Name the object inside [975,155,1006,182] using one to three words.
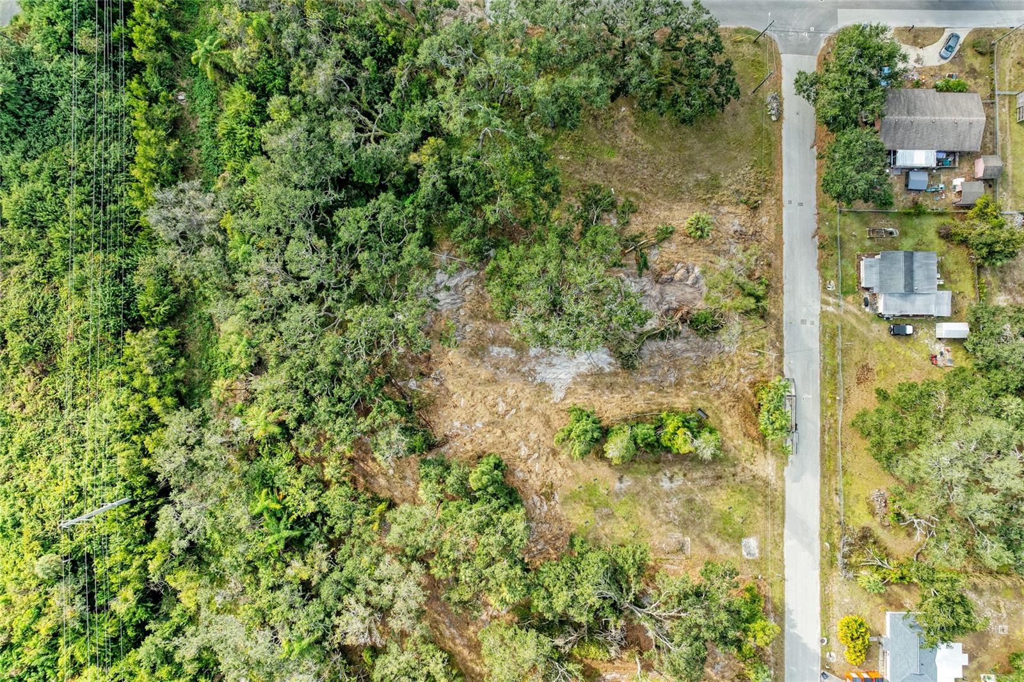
shed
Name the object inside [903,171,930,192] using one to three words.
shed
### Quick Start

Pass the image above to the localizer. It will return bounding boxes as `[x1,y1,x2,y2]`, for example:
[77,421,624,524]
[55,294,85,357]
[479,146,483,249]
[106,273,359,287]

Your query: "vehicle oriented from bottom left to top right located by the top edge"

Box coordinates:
[941,30,966,59]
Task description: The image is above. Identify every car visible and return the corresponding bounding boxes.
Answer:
[941,30,966,59]
[892,323,916,336]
